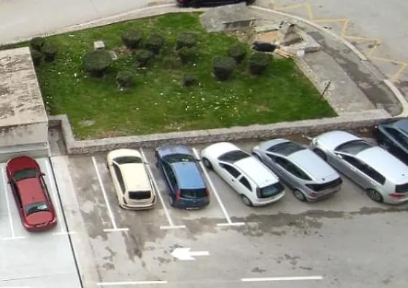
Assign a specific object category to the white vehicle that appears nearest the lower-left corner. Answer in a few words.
automobile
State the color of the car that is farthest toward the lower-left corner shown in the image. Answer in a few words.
red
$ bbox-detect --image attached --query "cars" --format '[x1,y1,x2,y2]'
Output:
[155,146,210,209]
[316,133,408,206]
[207,143,286,208]
[106,149,156,211]
[370,121,408,175]
[255,137,350,207]
[7,157,57,231]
